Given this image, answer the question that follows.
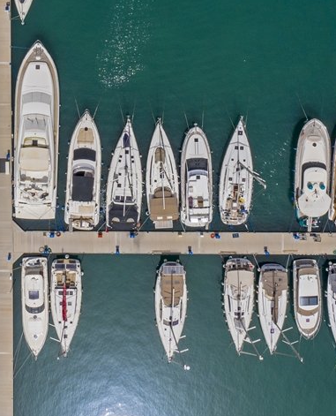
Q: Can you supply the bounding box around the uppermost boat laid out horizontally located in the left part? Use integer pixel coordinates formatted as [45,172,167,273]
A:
[73,218,100,231]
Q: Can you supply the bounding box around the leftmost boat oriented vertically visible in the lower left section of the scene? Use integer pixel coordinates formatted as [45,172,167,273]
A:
[11,255,51,376]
